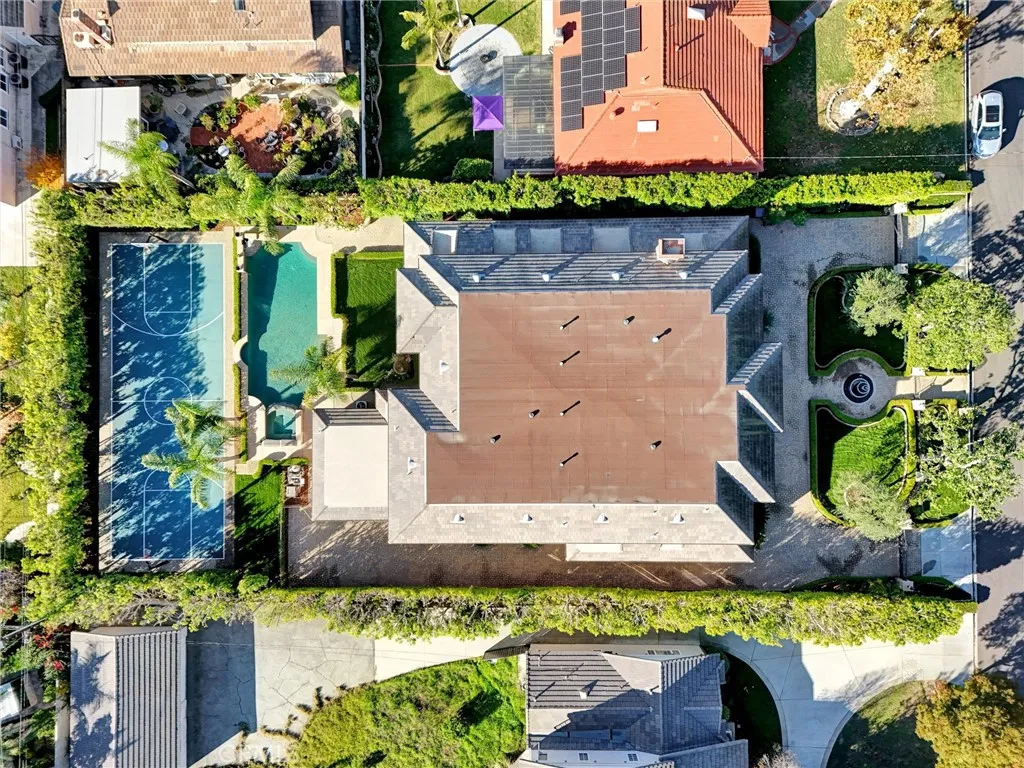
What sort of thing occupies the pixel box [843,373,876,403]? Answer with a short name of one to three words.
fountain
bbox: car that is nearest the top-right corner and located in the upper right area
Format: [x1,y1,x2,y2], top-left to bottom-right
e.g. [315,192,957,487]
[967,94,1005,159]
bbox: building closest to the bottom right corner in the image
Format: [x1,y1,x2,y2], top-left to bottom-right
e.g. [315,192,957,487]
[512,643,749,768]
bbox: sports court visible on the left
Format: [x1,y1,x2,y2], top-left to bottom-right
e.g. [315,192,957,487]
[98,231,234,569]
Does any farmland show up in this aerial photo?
No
